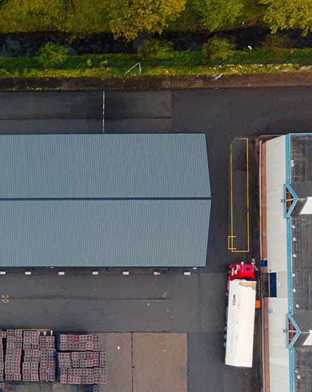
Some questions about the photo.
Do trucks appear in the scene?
Yes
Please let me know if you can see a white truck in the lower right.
Yes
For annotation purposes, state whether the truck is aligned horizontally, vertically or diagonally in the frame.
vertically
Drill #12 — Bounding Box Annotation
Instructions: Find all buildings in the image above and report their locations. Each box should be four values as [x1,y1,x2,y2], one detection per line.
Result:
[257,125,312,392]
[0,133,211,268]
